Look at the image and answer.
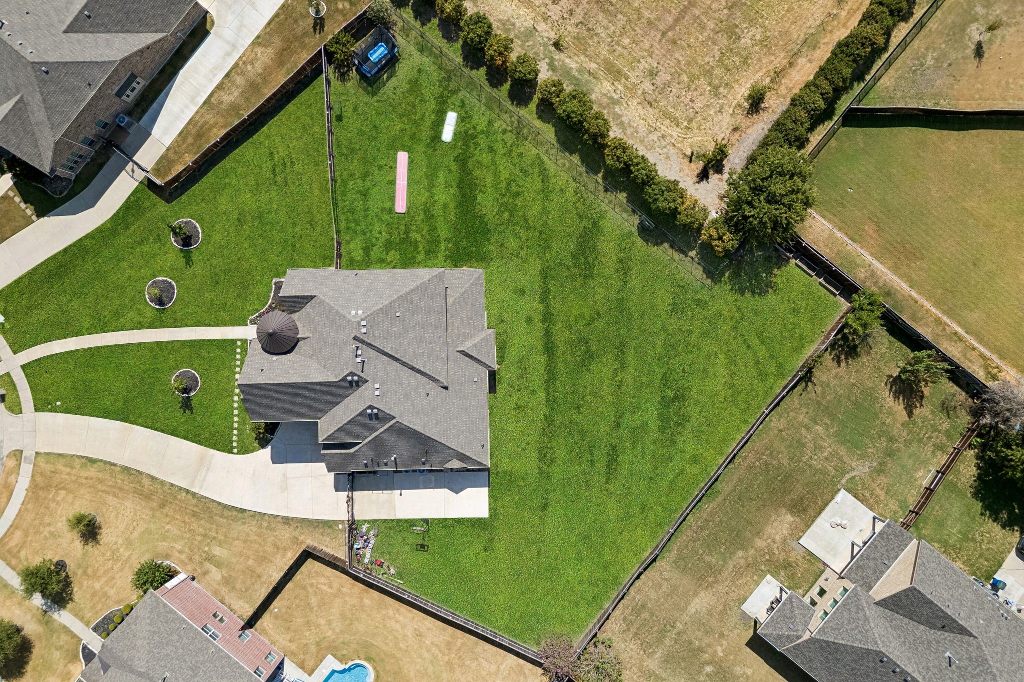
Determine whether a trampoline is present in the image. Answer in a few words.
Yes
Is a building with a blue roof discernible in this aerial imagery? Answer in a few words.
No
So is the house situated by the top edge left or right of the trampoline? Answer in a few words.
left of it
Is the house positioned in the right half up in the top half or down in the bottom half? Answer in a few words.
bottom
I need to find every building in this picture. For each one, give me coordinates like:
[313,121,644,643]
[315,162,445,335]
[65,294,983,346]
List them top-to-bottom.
[0,0,215,178]
[238,267,498,473]
[755,515,1024,682]
[73,573,283,682]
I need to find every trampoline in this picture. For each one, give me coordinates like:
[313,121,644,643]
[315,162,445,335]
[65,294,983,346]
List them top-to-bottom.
[349,22,399,79]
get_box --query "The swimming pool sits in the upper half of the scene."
[363,40,387,64]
